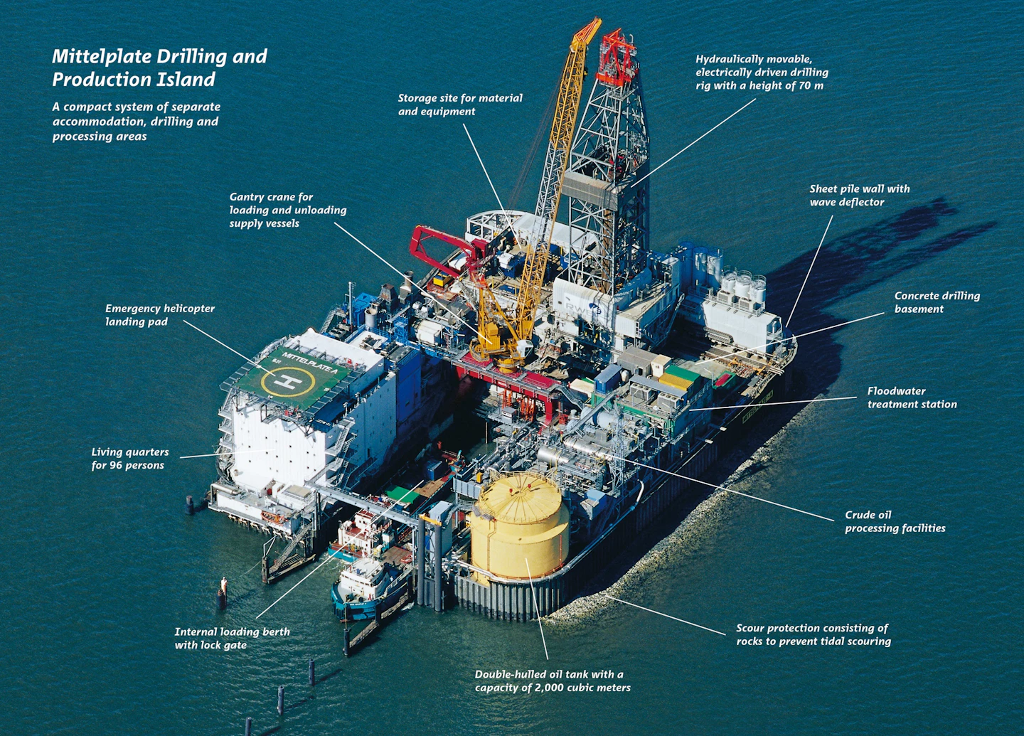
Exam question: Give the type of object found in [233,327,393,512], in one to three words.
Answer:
building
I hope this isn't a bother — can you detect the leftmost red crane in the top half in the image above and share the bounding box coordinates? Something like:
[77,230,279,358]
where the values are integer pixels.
[407,222,506,293]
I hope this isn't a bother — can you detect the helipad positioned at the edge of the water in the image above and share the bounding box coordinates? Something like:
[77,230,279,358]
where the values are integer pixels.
[223,343,363,440]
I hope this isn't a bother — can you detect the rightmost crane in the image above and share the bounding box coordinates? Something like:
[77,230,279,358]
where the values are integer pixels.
[466,16,601,374]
